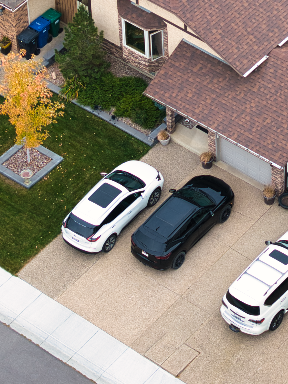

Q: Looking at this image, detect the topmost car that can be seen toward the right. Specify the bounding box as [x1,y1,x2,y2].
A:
[124,176,233,277]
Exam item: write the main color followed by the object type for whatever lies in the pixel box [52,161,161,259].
white car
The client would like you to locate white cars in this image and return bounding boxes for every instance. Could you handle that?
[214,230,288,341]
[52,161,161,259]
